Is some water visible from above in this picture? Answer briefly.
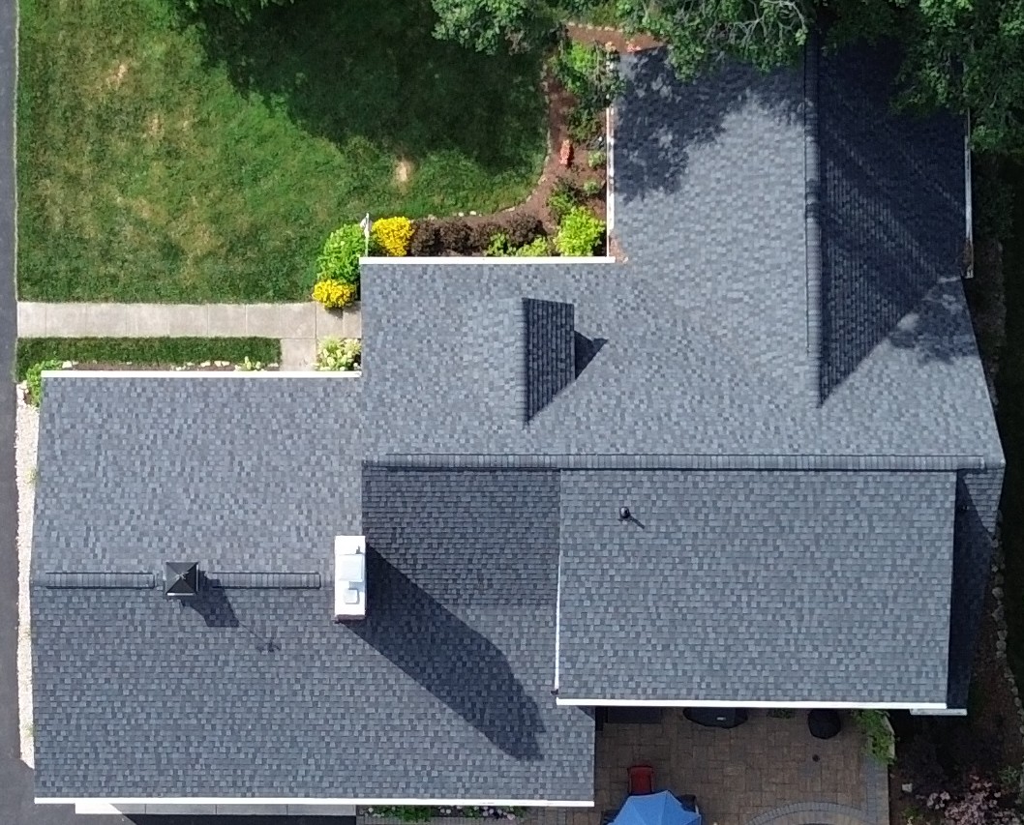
No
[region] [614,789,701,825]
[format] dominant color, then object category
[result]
blue umbrella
